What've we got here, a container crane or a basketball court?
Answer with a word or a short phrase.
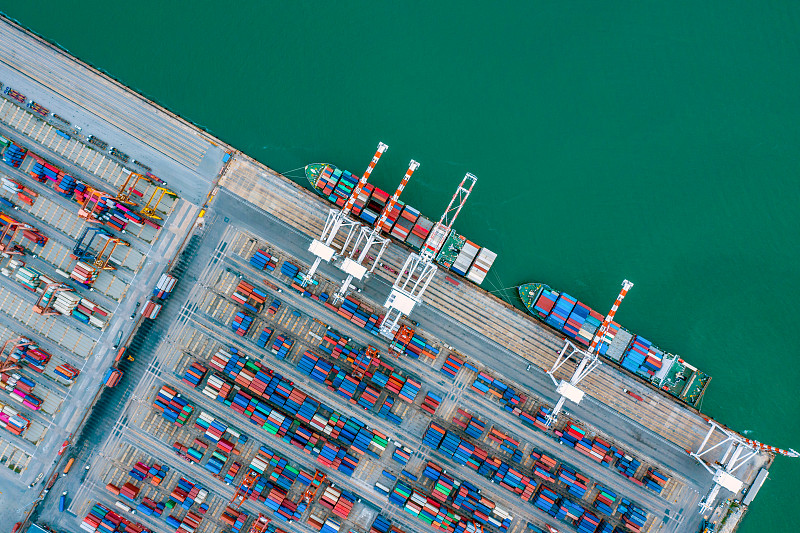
container crane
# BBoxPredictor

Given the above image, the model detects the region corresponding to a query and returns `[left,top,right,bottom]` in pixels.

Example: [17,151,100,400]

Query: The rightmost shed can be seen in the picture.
[738,466,768,506]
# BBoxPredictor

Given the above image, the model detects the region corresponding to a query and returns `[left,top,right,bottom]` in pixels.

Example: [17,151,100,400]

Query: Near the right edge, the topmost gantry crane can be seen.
[683,417,800,515]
